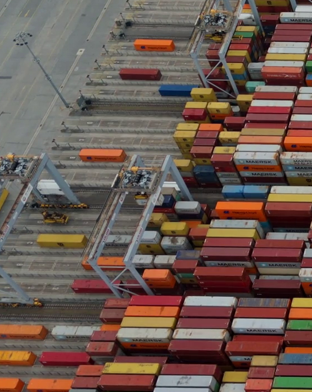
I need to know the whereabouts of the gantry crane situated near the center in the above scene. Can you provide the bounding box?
[85,152,203,298]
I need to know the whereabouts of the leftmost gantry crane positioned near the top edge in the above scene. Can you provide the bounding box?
[186,0,264,104]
